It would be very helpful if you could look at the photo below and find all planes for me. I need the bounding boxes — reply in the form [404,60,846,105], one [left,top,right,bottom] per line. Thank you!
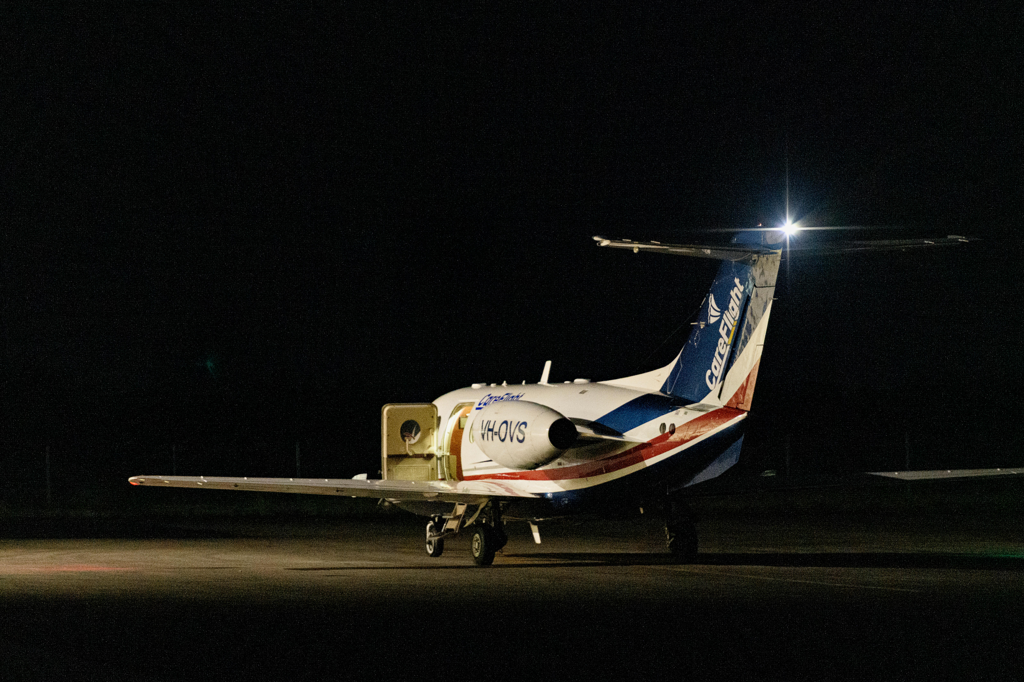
[129,223,1024,565]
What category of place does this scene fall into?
airport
